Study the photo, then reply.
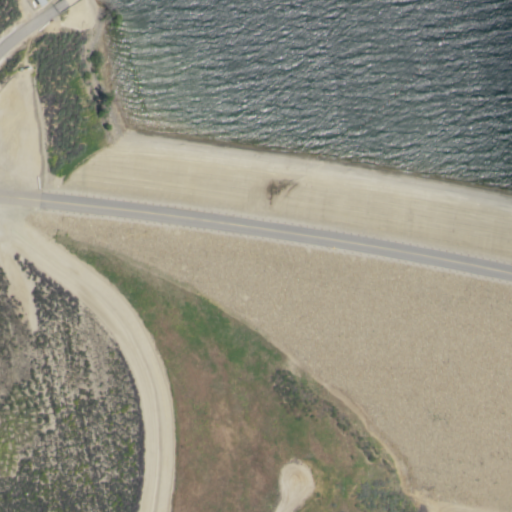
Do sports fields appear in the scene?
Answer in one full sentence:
No, the picture doesn't show any sports field.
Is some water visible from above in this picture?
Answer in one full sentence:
Yes, water shows up in the scene.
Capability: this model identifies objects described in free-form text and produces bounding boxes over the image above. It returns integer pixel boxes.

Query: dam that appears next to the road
[26,129,512,511]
